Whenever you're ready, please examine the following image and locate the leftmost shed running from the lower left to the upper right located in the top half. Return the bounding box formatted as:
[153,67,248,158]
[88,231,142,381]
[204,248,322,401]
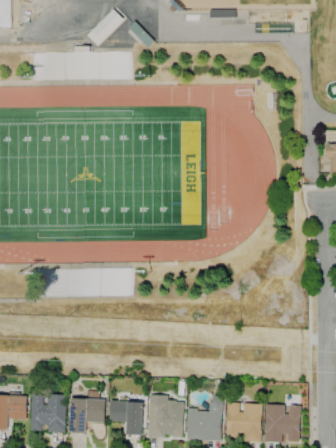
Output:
[88,8,126,46]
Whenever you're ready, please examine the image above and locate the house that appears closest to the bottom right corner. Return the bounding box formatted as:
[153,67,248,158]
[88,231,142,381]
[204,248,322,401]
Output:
[266,405,302,442]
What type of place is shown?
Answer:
sports ground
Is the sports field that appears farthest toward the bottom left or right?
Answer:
left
